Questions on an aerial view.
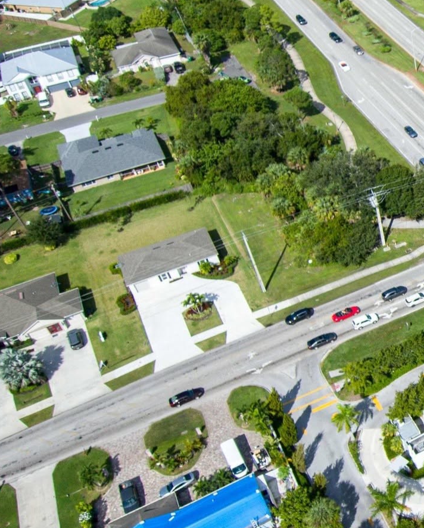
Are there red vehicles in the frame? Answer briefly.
Yes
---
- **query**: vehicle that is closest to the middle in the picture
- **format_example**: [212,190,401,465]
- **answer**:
[285,305,316,327]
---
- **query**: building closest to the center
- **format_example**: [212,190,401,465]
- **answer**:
[121,226,218,293]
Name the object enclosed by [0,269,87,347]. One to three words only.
house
